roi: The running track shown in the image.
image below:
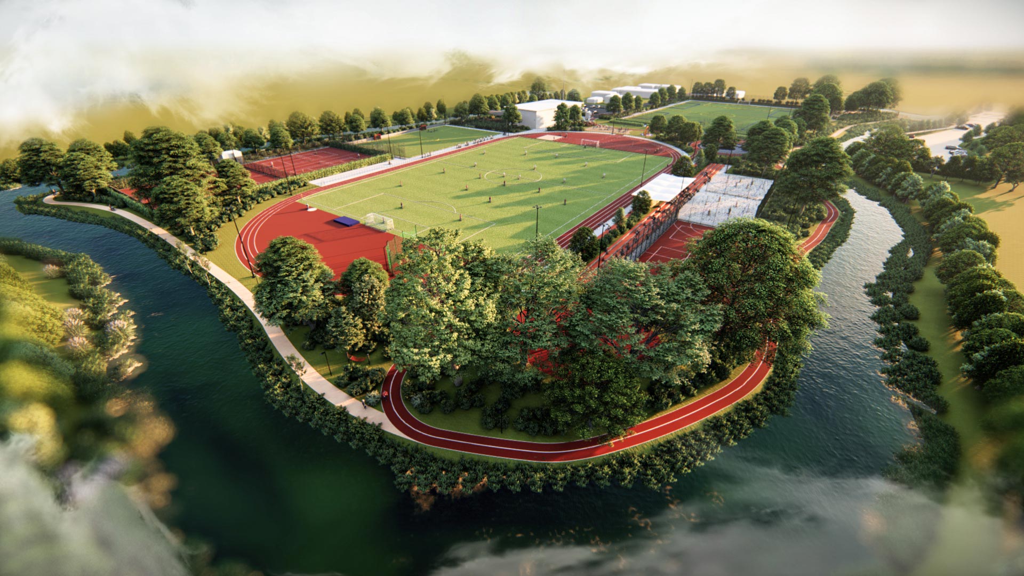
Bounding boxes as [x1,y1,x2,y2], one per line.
[228,131,684,298]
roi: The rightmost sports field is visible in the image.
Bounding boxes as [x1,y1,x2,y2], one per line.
[628,101,794,141]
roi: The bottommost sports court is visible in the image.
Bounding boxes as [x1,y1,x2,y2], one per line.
[616,221,748,297]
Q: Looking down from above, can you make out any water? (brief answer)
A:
Yes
